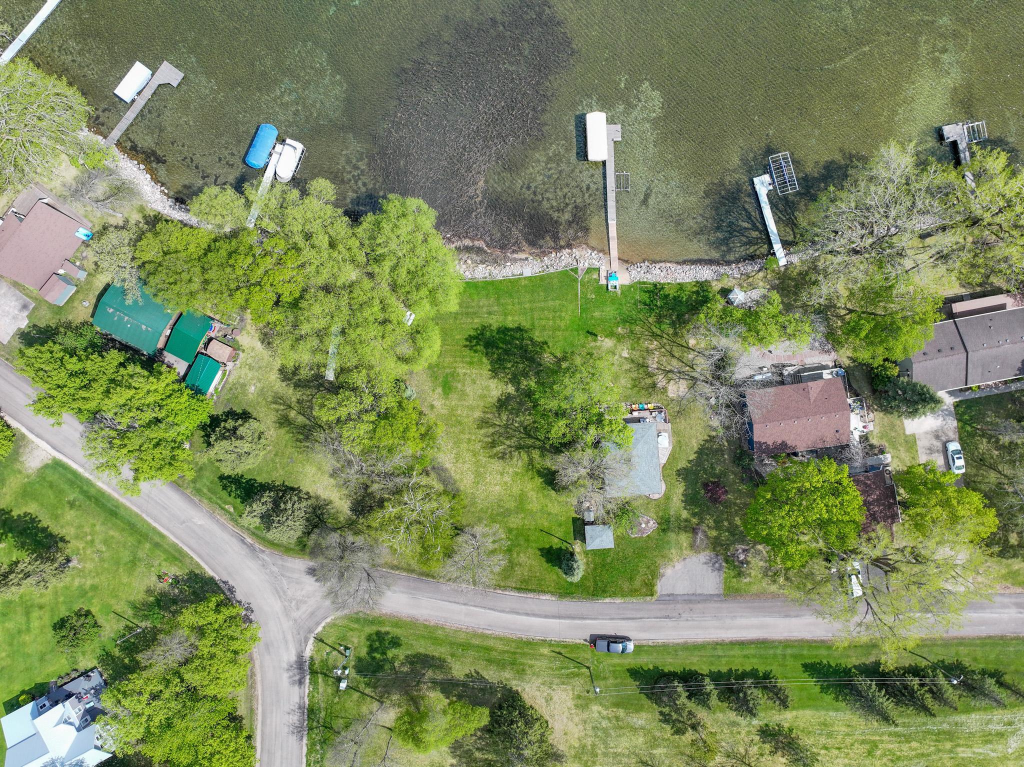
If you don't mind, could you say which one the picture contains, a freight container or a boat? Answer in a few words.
boat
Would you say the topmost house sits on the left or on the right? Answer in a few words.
left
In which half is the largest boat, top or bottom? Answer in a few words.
top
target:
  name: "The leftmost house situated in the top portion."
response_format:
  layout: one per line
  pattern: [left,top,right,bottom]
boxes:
[0,198,93,304]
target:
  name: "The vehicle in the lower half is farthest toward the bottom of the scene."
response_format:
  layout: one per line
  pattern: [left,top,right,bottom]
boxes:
[596,639,636,657]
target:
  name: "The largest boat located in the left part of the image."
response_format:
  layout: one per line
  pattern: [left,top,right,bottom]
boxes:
[278,140,308,183]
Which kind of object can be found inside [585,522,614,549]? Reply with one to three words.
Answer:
building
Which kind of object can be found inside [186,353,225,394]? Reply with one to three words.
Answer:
shed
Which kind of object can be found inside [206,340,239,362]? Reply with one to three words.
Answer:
shed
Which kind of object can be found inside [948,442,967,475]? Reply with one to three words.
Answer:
car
